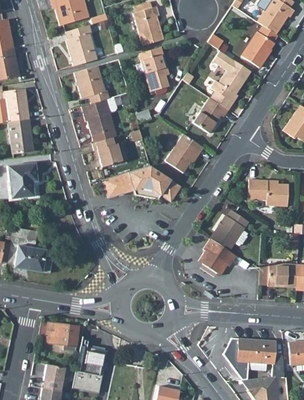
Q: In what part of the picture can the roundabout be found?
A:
bottom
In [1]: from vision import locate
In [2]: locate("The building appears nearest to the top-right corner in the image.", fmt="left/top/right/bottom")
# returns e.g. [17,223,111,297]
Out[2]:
[256,0,295,36]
